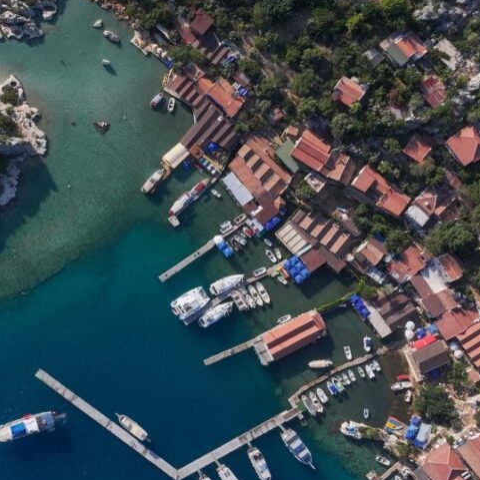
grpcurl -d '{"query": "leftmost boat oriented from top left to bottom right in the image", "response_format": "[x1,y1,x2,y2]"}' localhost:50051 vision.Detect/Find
[117,416,151,444]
